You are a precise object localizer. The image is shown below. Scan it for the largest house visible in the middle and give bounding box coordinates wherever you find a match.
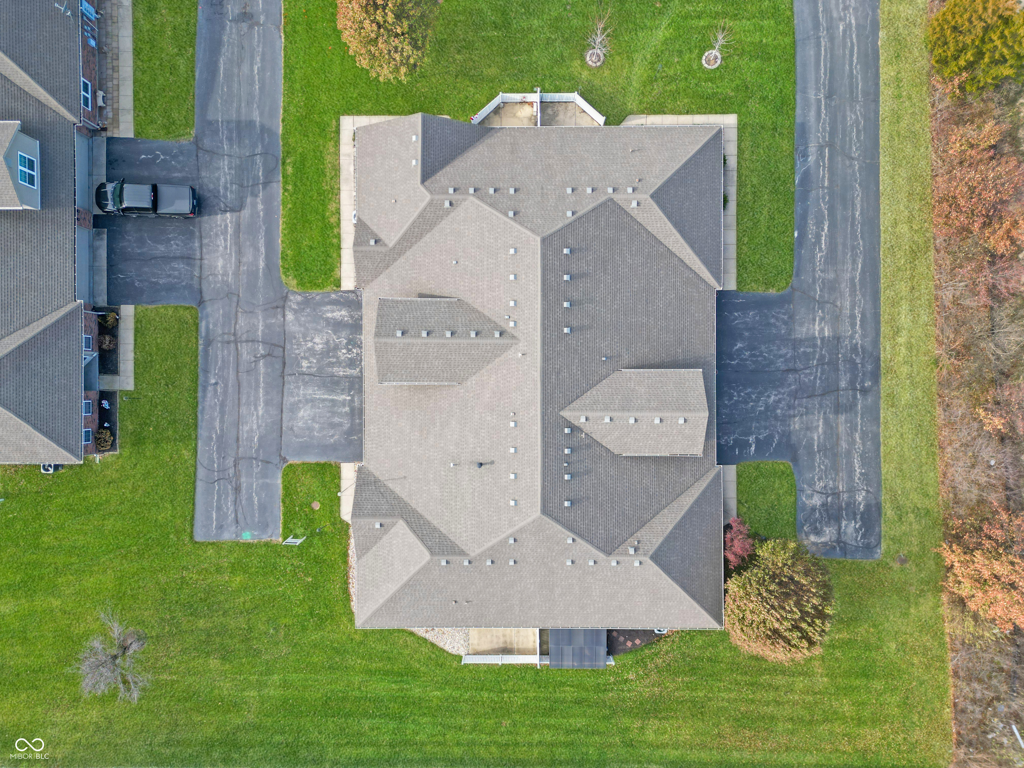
[349,111,724,629]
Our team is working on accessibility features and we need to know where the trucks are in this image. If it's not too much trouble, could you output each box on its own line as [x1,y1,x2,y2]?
[94,173,200,220]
